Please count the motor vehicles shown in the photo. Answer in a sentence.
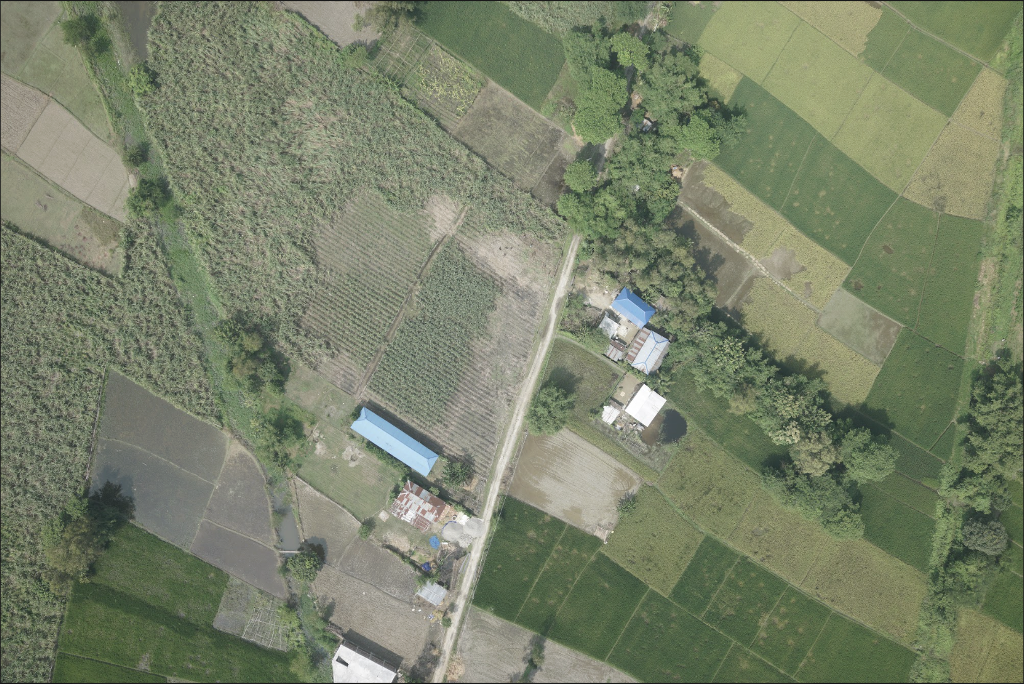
There are no motor vehicles in the image.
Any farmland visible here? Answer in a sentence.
Yes, farmland can be seen from above here.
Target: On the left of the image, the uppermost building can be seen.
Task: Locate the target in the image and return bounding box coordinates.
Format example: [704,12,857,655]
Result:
[351,407,438,476]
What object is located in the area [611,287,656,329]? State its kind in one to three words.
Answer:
house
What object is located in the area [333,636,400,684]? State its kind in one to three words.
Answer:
building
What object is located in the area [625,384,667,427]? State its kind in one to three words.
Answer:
house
